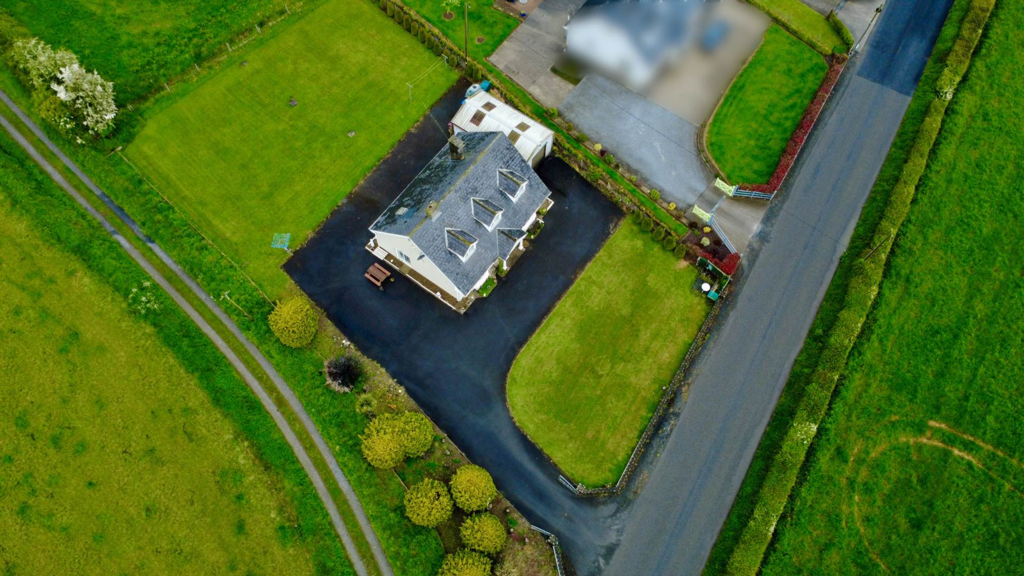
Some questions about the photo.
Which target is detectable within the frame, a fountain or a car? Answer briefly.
car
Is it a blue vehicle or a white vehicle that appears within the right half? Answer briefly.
blue vehicle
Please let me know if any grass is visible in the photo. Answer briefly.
Yes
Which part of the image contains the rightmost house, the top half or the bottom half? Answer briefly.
top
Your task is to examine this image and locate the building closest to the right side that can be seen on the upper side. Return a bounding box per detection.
[565,0,710,91]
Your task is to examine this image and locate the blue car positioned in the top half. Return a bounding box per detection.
[699,20,731,53]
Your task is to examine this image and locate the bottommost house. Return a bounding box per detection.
[367,131,552,302]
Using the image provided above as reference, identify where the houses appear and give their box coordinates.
[367,131,552,302]
[565,0,710,91]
